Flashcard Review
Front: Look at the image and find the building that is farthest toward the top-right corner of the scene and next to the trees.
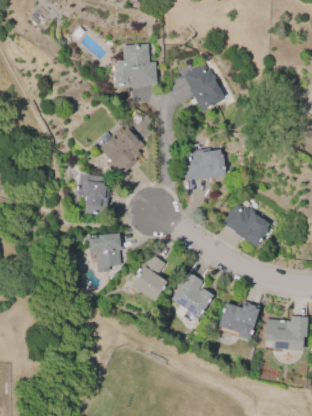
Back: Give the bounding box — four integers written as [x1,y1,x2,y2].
[184,64,228,112]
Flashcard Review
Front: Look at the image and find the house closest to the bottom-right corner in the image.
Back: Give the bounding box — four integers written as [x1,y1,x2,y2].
[266,316,310,351]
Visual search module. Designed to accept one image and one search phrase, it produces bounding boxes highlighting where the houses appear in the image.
[102,128,144,170]
[174,272,216,317]
[89,234,122,272]
[266,316,310,351]
[114,42,158,89]
[223,203,271,248]
[184,64,228,112]
[188,147,227,182]
[76,173,109,214]
[218,300,263,338]
[130,257,169,303]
